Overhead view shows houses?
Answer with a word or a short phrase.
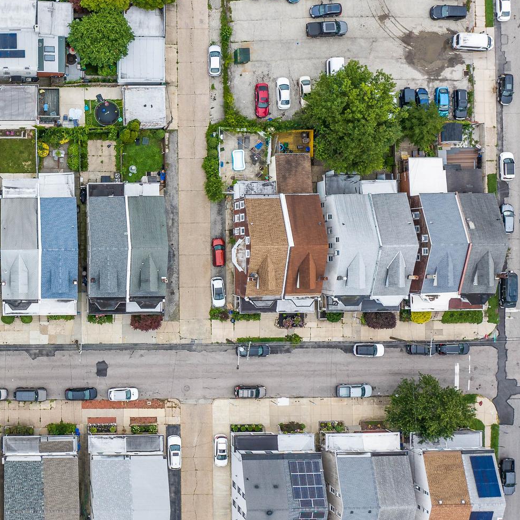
Yes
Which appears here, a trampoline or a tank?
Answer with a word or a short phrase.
trampoline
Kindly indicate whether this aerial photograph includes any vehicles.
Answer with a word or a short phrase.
Yes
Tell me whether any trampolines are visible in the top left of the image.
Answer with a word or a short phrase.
Yes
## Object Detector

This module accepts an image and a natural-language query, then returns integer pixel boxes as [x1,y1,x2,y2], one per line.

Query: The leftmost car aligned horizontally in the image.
[14,387,47,403]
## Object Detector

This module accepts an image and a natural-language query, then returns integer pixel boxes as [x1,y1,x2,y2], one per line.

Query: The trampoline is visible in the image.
[94,99,121,125]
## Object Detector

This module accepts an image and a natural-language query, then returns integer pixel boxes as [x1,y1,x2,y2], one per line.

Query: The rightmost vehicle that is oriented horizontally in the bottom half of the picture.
[436,342,469,358]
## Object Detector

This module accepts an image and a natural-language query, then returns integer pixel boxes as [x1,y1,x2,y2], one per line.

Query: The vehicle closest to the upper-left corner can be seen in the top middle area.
[207,45,223,75]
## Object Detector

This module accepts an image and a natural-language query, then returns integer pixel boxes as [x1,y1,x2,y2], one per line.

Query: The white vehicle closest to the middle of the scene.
[211,277,227,307]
